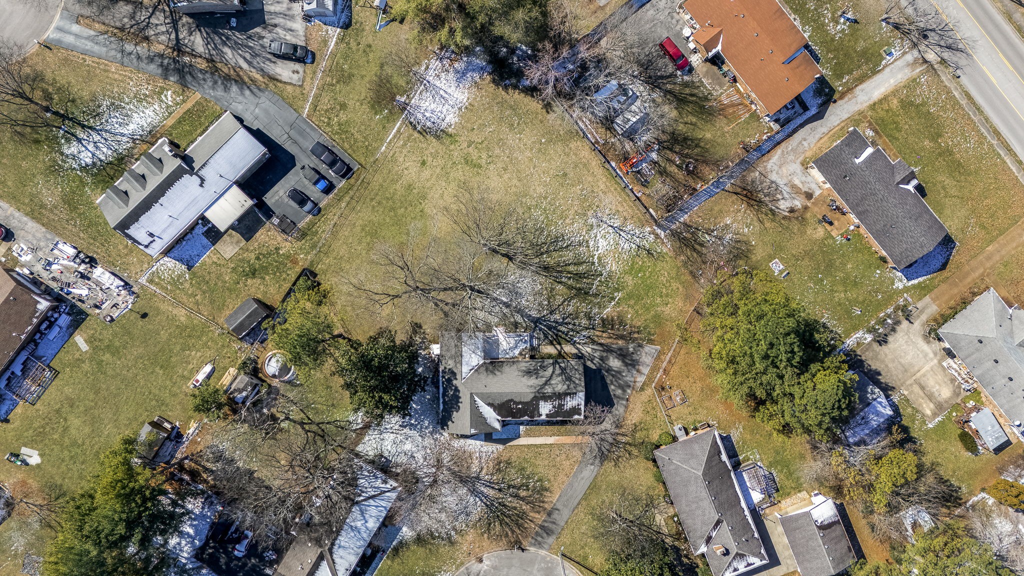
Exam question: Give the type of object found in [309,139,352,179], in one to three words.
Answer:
truck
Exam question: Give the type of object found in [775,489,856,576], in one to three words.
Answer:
building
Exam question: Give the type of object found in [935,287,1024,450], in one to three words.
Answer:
house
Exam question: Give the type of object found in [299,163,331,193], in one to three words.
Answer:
car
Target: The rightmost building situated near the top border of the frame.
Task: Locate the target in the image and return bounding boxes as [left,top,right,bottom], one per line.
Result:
[673,0,823,115]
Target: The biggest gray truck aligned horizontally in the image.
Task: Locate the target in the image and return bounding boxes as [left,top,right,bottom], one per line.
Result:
[265,40,310,61]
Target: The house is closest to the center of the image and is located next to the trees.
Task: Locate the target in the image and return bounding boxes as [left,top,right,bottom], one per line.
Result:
[439,331,585,434]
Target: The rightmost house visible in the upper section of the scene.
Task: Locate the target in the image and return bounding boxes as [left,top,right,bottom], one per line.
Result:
[808,127,948,270]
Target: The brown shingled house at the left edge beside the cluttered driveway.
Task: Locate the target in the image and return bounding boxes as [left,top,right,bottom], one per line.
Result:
[0,268,57,379]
